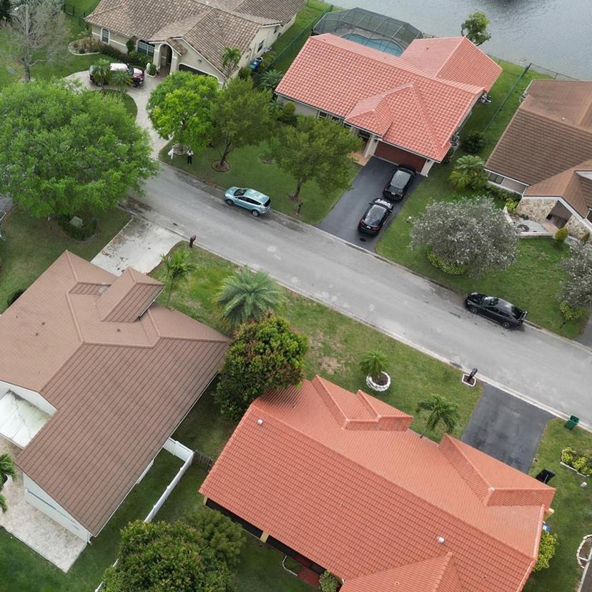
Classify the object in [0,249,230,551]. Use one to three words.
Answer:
house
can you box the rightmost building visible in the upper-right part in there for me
[479,79,592,244]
